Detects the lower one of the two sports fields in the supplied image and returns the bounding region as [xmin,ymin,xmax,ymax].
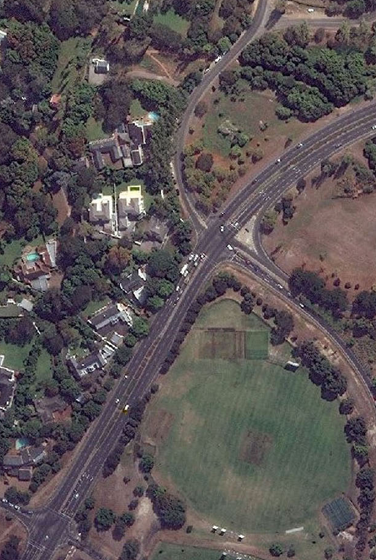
[150,545,255,560]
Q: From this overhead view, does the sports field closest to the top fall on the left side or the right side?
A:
right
